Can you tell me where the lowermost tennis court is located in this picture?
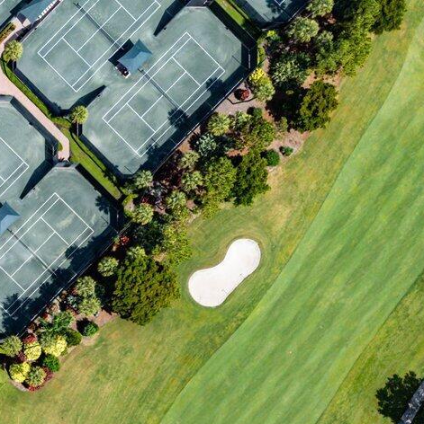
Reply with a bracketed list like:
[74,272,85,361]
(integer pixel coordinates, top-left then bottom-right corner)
[0,165,118,335]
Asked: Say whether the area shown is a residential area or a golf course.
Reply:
golf course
